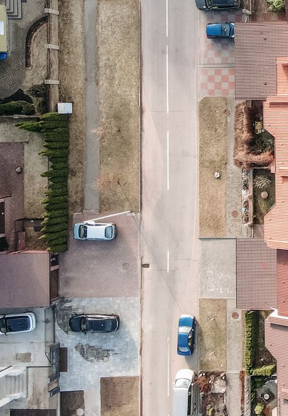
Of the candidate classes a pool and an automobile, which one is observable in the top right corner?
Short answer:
automobile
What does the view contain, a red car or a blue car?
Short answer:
blue car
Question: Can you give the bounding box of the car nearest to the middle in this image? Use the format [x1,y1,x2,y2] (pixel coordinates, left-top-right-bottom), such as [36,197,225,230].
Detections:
[75,221,119,242]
